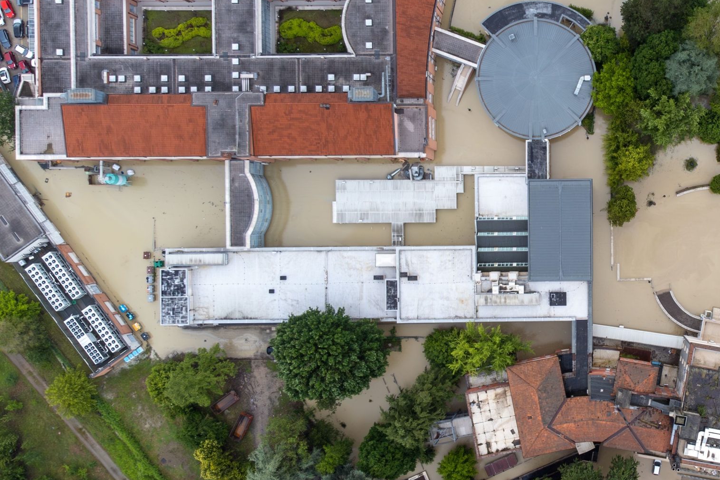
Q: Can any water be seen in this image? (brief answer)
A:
Yes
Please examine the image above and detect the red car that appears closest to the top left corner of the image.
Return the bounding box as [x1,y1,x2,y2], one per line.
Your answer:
[1,0,18,19]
